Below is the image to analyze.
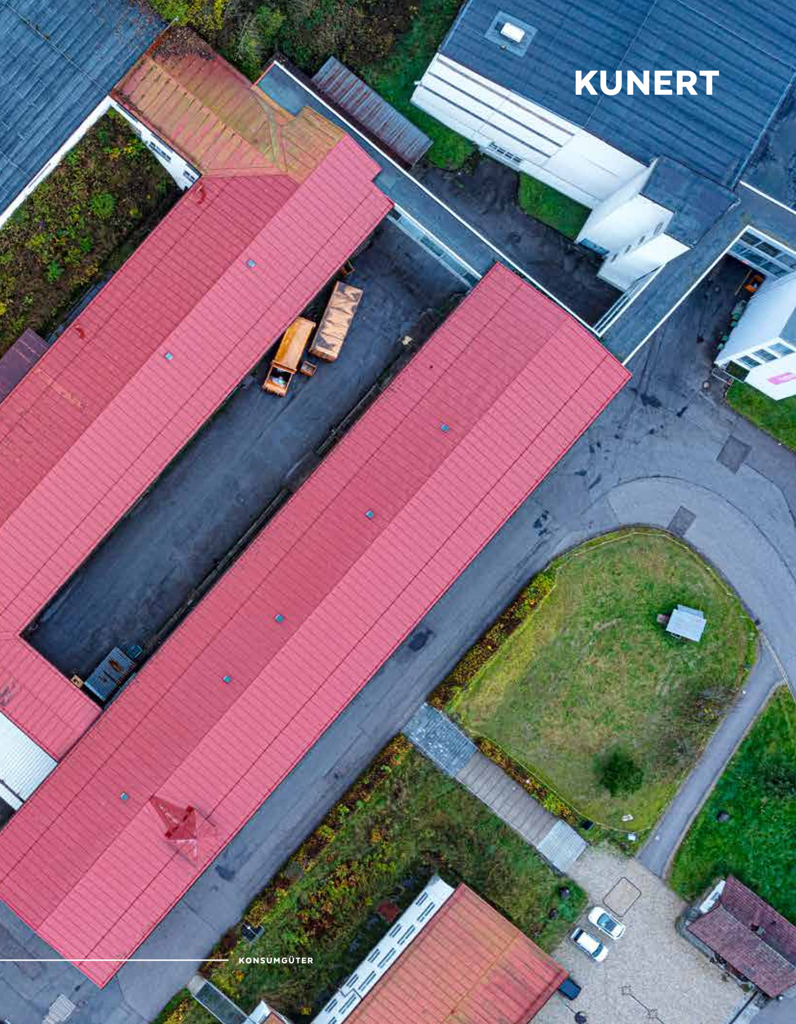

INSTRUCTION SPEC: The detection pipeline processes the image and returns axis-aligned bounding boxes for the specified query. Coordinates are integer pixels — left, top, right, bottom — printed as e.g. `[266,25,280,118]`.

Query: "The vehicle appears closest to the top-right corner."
[738,268,772,294]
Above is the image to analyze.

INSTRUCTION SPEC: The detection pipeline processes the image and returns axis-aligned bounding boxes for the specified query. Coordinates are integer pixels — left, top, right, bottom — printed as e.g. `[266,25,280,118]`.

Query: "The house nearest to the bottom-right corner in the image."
[678,875,796,999]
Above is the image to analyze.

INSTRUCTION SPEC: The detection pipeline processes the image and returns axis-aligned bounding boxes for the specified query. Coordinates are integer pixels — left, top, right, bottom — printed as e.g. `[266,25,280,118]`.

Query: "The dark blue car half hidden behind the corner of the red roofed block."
[557,976,585,1002]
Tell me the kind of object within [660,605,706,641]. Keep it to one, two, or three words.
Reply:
shed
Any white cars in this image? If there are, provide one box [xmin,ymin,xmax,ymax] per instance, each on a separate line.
[573,930,611,963]
[591,909,629,942]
